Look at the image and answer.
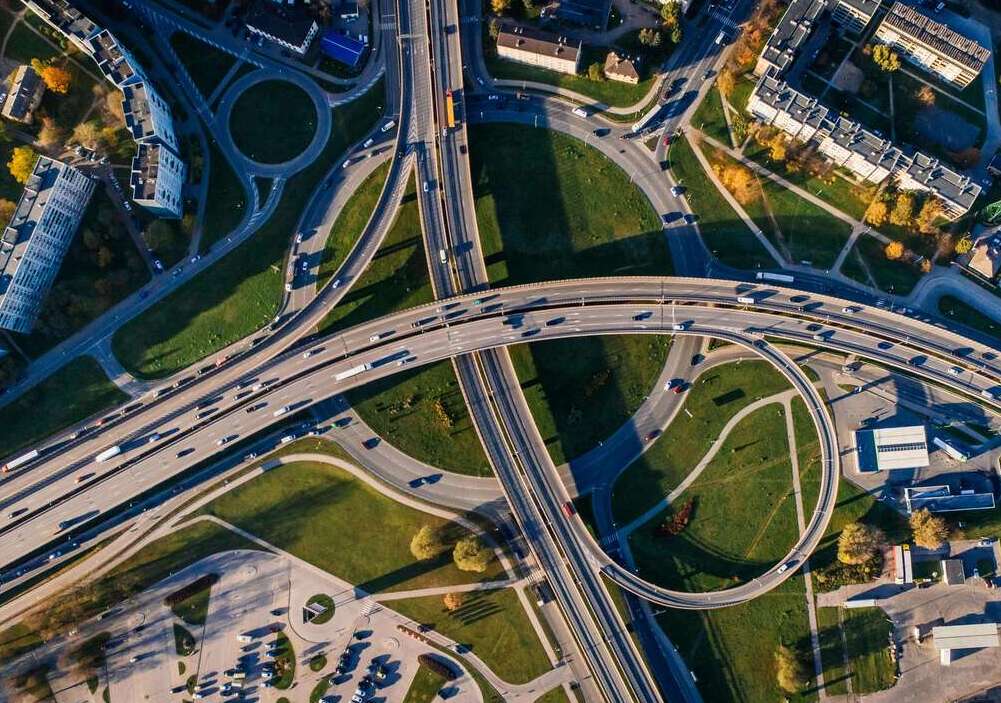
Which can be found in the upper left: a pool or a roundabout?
roundabout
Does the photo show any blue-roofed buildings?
Yes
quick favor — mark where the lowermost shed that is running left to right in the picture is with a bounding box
[926,619,1000,649]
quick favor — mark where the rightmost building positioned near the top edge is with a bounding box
[867,1,991,87]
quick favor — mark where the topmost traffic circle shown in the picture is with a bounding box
[216,67,330,179]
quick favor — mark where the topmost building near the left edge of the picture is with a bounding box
[25,0,103,59]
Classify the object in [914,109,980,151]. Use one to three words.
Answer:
sports court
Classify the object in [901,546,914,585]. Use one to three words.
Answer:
vehicle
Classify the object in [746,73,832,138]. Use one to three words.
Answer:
building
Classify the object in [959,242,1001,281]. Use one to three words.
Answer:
house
